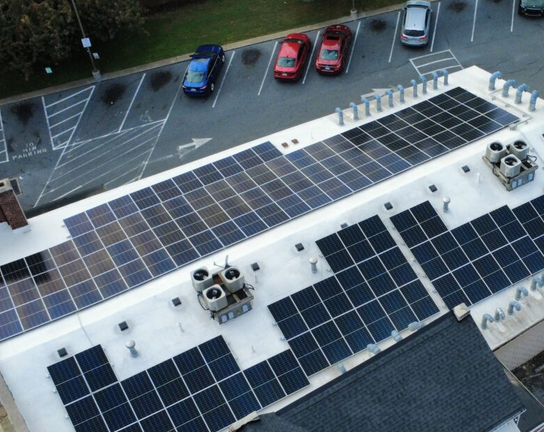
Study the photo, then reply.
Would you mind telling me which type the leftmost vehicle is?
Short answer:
car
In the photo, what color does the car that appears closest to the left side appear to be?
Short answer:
blue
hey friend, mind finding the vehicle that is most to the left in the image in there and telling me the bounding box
[178,45,227,98]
